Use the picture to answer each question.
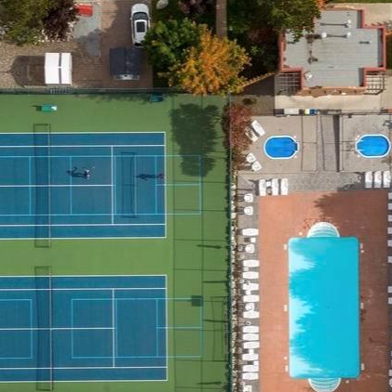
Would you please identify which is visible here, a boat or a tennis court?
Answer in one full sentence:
Of the two, only a tennis court appears.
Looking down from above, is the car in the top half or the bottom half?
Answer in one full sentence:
The car sits in the top half of the picture.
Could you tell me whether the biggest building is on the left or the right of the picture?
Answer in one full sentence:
The biggest building appears in the right half of the scene.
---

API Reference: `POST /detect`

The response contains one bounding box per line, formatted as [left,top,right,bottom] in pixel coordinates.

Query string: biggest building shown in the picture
[278,6,387,96]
